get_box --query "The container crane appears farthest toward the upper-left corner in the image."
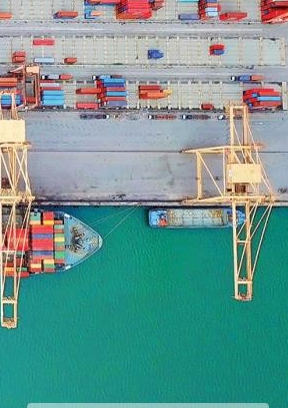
[10,63,39,111]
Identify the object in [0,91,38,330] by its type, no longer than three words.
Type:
container crane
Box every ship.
[3,207,103,276]
[148,208,246,227]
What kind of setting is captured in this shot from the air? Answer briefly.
port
